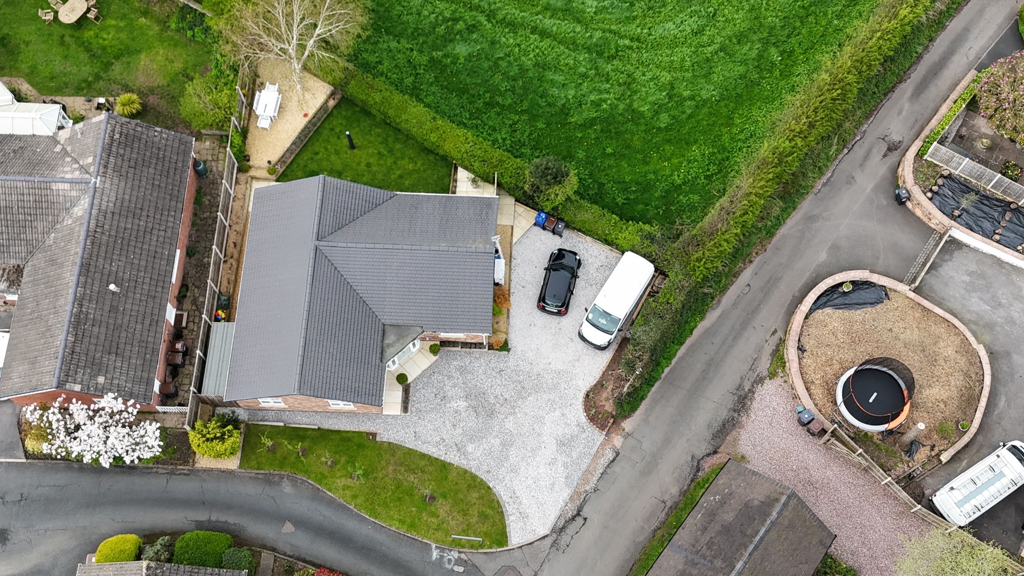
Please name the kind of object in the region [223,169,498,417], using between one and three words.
house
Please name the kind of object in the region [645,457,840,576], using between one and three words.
building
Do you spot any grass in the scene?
Yes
